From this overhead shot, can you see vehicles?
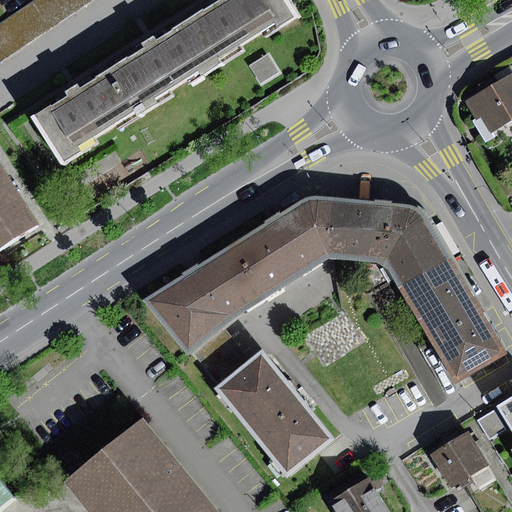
Yes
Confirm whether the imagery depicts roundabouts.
Yes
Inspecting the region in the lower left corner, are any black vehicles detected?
Yes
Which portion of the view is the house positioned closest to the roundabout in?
top right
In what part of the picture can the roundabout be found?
top right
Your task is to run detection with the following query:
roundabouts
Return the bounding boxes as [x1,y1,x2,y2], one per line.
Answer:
[323,18,454,154]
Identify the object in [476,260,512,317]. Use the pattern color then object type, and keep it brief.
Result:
white bus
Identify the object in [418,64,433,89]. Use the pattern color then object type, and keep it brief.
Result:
black car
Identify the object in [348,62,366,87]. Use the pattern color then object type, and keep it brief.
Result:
white vehicle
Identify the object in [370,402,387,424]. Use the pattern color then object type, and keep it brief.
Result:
white car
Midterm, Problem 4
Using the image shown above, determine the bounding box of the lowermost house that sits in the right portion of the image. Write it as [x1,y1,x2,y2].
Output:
[332,478,390,512]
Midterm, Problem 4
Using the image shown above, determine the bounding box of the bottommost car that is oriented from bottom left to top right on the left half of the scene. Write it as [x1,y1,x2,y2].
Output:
[146,360,168,378]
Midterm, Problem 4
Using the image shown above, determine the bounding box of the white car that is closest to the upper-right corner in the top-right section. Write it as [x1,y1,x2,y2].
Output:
[445,20,468,38]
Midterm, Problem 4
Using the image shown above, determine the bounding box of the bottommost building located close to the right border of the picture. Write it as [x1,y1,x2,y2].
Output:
[430,431,496,492]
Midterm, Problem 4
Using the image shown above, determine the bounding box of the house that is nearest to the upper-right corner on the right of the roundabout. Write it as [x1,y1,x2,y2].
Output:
[466,71,512,142]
